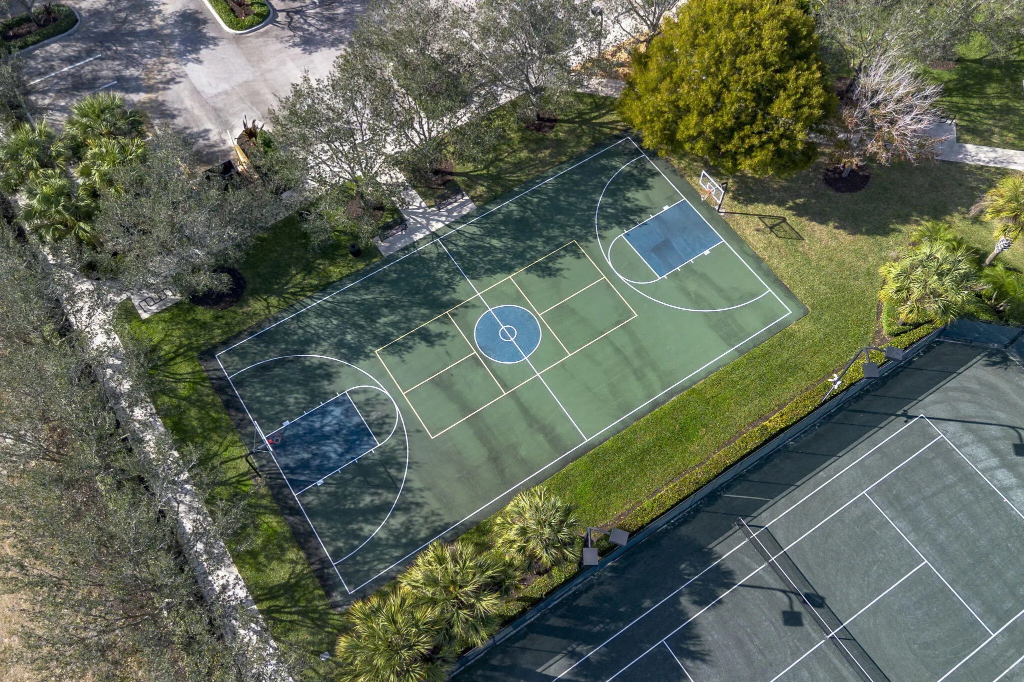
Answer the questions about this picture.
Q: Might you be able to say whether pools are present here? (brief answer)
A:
No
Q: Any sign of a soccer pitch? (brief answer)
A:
No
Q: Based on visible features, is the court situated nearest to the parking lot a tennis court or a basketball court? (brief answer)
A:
basketball court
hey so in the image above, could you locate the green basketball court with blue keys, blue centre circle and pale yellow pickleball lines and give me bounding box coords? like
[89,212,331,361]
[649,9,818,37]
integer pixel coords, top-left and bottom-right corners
[198,127,809,613]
